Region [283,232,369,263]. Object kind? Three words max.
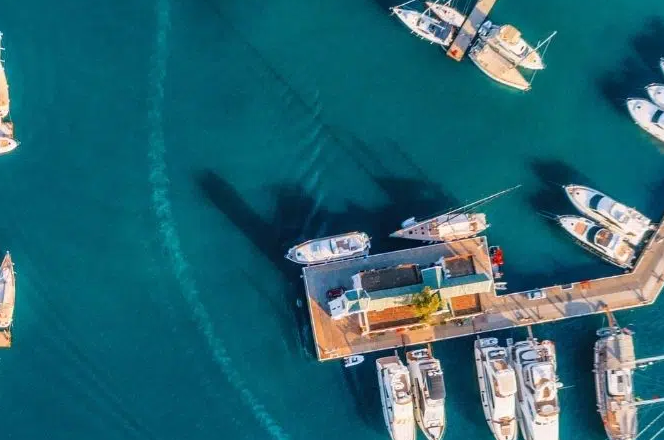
boat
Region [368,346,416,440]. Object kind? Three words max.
boat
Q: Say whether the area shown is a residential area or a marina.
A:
marina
